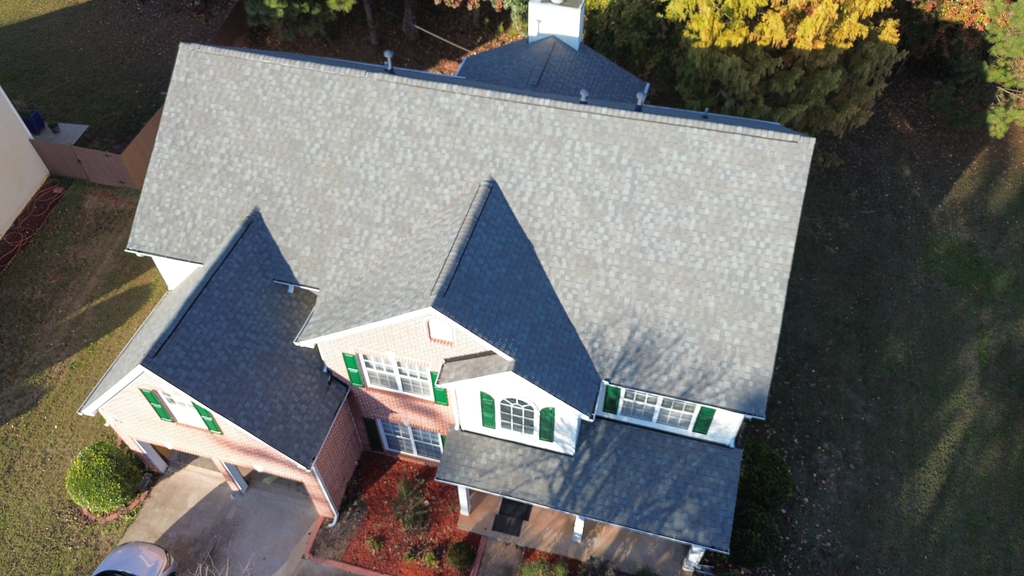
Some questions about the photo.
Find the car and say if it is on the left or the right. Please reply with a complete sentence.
You can find the car on the left side of the picture.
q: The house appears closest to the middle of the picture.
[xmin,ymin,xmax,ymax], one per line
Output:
[78,0,817,576]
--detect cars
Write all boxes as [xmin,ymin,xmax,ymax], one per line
[93,541,176,576]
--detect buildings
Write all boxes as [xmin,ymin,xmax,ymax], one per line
[78,0,817,576]
[0,91,49,244]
